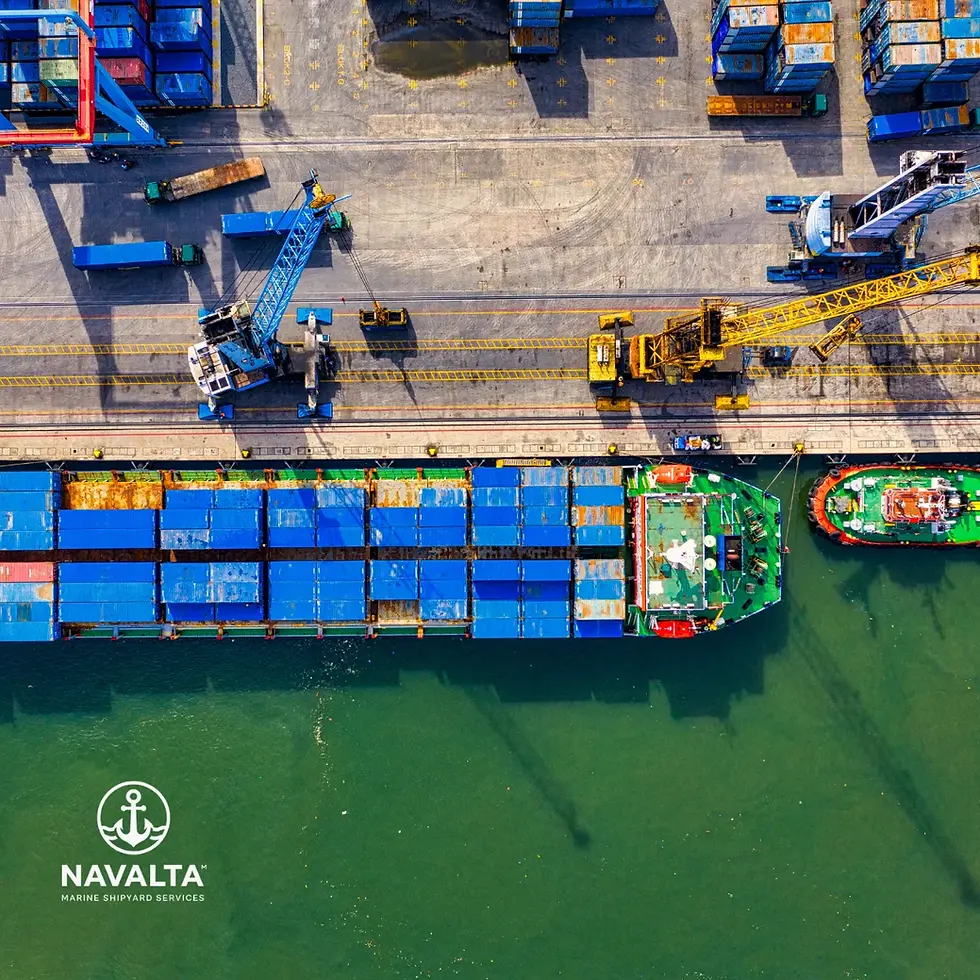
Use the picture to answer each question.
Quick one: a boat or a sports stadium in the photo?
boat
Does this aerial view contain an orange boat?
Yes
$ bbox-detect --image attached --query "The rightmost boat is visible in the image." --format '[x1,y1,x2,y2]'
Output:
[806,459,980,546]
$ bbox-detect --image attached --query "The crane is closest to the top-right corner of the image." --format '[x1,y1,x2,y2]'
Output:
[765,149,980,282]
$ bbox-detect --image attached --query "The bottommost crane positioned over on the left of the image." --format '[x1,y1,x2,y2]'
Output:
[184,163,384,419]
